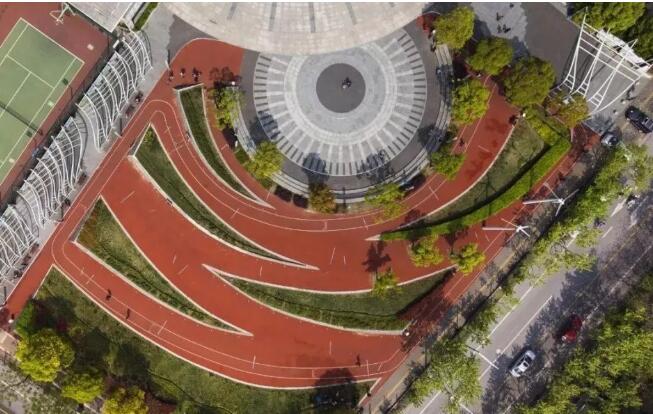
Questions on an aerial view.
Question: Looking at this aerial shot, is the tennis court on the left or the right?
left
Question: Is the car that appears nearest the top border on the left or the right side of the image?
right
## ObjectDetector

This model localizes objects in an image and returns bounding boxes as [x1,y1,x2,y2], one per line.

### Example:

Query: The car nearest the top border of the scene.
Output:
[623,105,653,133]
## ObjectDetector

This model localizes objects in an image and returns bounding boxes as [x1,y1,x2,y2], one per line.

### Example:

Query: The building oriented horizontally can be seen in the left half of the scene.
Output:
[59,0,142,38]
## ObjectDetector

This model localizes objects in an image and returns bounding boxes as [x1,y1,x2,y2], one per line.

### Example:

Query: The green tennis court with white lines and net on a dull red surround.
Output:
[0,0,117,209]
